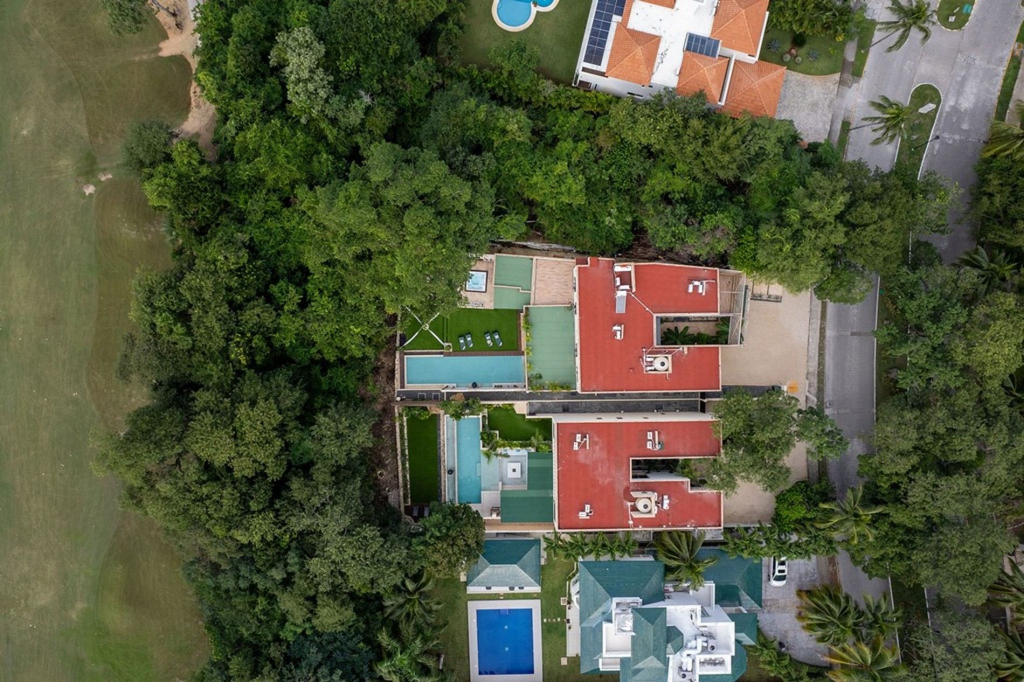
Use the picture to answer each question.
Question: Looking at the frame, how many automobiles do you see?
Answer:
1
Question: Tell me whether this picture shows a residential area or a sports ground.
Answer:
residential area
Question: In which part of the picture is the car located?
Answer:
bottom right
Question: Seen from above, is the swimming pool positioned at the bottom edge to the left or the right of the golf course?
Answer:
right of it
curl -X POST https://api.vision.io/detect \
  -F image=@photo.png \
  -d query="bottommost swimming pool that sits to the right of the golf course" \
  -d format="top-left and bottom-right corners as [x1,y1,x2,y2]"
[469,597,543,682]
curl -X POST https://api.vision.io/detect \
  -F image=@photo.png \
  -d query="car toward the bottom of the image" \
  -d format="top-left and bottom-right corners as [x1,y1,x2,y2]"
[769,548,789,586]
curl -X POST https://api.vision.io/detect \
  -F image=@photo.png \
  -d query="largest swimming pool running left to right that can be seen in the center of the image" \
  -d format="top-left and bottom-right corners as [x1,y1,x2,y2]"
[403,354,524,389]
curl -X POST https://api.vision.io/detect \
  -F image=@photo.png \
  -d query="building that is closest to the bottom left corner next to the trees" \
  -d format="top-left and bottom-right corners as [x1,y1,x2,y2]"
[467,535,541,593]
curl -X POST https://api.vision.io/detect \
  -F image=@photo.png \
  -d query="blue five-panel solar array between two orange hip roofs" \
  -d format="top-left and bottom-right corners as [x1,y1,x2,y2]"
[685,32,721,59]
